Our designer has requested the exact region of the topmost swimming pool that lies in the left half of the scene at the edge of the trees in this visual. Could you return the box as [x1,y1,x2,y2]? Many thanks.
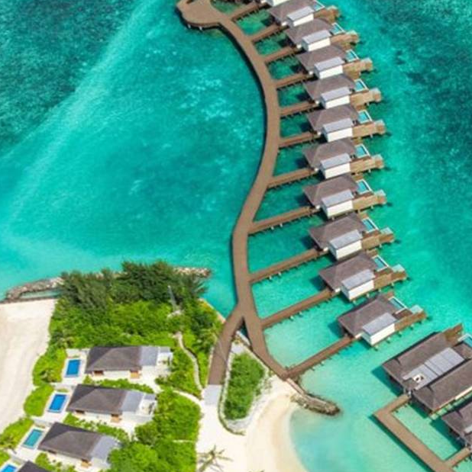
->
[63,356,83,378]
